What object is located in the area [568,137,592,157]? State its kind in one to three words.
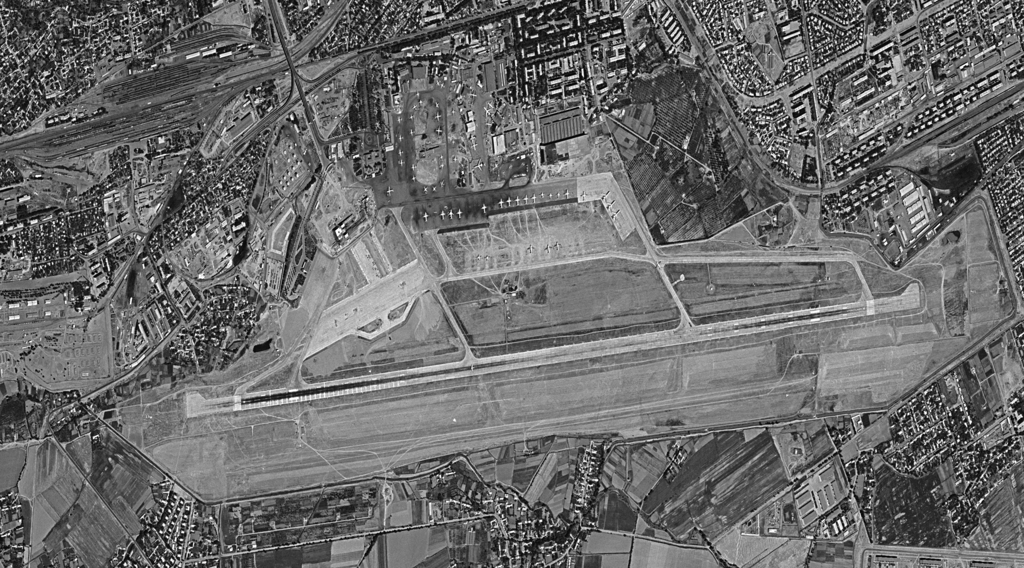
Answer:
building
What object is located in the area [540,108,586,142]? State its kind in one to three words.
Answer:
building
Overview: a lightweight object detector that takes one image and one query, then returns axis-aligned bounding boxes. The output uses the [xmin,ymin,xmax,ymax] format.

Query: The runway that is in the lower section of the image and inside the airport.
[232,299,875,411]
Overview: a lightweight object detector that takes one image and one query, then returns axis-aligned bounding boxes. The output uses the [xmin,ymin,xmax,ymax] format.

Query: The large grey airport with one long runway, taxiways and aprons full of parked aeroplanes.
[187,78,920,418]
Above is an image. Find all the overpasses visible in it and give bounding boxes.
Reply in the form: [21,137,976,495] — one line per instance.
[268,0,321,147]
